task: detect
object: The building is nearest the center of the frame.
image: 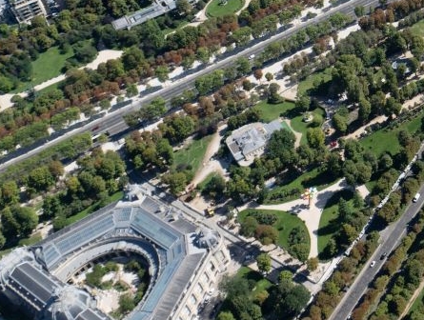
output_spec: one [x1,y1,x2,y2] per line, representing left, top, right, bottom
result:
[224,122,289,174]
